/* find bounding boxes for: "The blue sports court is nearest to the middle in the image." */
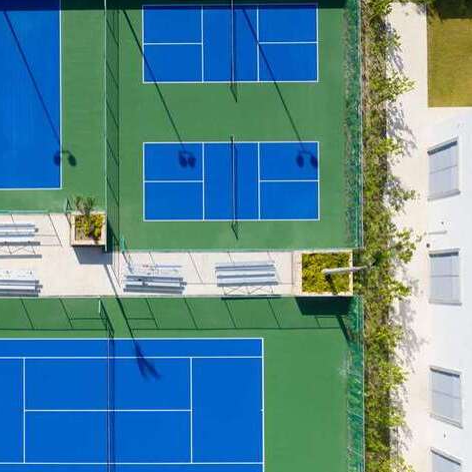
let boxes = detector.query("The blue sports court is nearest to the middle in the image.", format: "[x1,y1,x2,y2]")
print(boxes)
[143,142,320,220]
